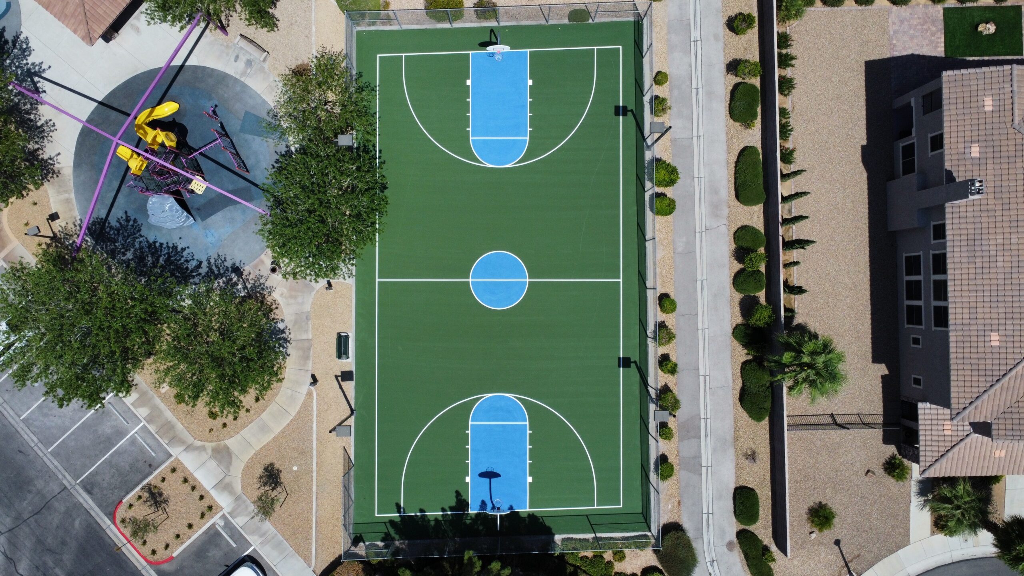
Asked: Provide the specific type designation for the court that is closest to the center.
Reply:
basketball court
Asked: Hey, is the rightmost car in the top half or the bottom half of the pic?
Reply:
bottom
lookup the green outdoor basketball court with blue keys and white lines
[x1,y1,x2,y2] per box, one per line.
[352,22,650,542]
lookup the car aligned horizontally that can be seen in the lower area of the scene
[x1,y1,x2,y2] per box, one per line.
[219,556,264,576]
